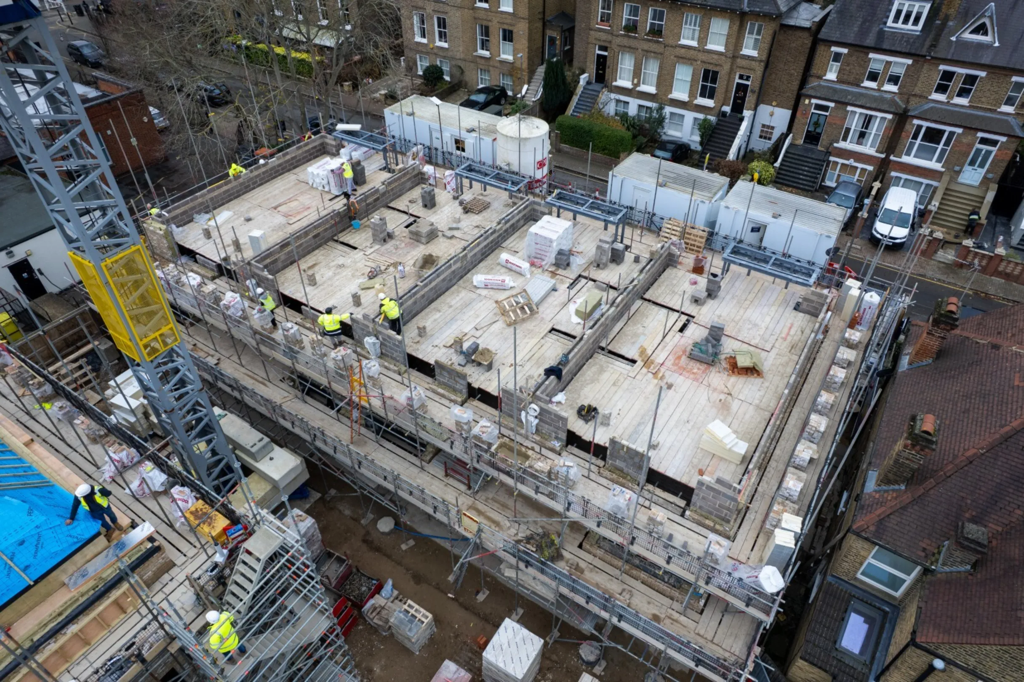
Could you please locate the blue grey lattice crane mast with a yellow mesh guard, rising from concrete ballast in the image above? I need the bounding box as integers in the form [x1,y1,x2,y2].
[0,0,241,497]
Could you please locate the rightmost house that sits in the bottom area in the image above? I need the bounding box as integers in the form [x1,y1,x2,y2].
[773,296,1024,682]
